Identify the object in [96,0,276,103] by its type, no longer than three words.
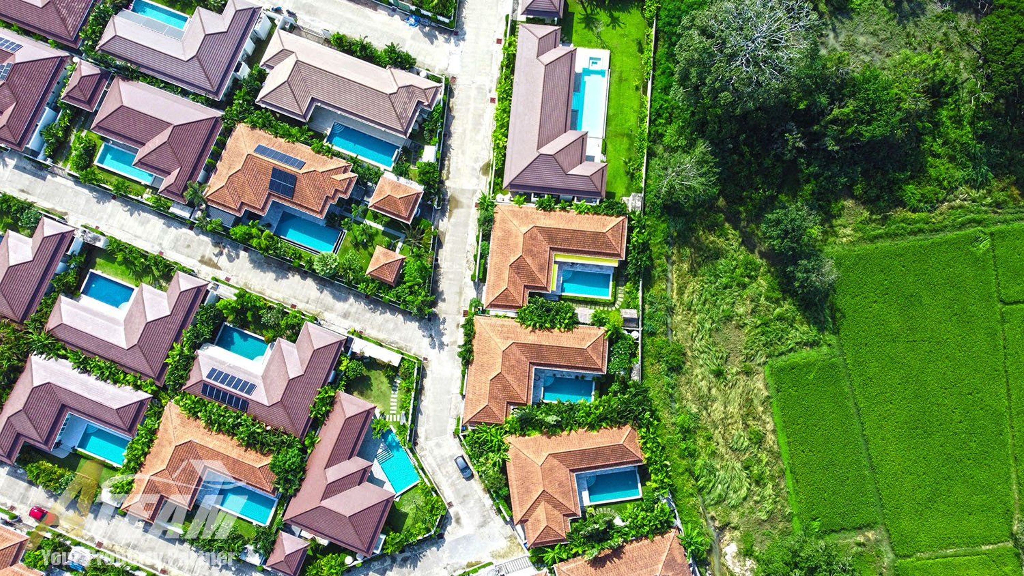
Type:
house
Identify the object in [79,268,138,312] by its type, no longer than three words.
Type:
swimming pool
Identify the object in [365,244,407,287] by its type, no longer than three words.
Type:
building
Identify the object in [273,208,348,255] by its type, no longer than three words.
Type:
swimming pool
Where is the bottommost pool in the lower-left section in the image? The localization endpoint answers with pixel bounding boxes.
[209,478,277,528]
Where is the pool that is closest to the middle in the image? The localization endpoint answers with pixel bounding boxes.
[558,267,614,300]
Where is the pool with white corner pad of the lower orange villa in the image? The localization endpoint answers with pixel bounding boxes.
[583,467,643,506]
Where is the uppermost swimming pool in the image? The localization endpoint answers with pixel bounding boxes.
[127,0,191,31]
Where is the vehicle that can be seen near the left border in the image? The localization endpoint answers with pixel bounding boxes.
[30,505,60,524]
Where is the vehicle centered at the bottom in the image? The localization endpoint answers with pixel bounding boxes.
[454,454,474,481]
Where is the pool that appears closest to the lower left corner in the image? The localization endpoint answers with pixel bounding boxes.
[74,420,135,467]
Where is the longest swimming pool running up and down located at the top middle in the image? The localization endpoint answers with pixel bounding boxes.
[574,65,612,140]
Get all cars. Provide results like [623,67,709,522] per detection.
[30,505,60,524]
[454,454,474,481]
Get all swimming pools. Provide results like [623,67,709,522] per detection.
[79,268,138,312]
[209,478,277,528]
[93,140,157,188]
[74,420,135,467]
[574,65,612,140]
[377,426,418,496]
[323,118,404,171]
[588,55,602,64]
[558,267,614,300]
[127,0,191,31]
[212,321,273,363]
[273,208,348,255]
[583,467,643,506]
